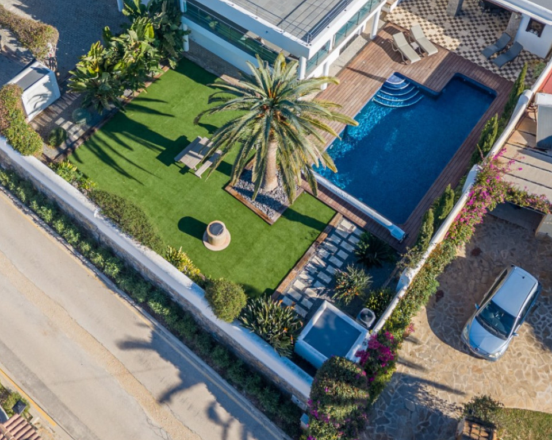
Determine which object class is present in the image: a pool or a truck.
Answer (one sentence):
I can see a pool in this picture.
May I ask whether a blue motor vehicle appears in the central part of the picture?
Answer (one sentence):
No, in the central part of the picture there is no blue motor vehicle.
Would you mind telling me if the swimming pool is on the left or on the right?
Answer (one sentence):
The swimming pool appears in the right half of the scene.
